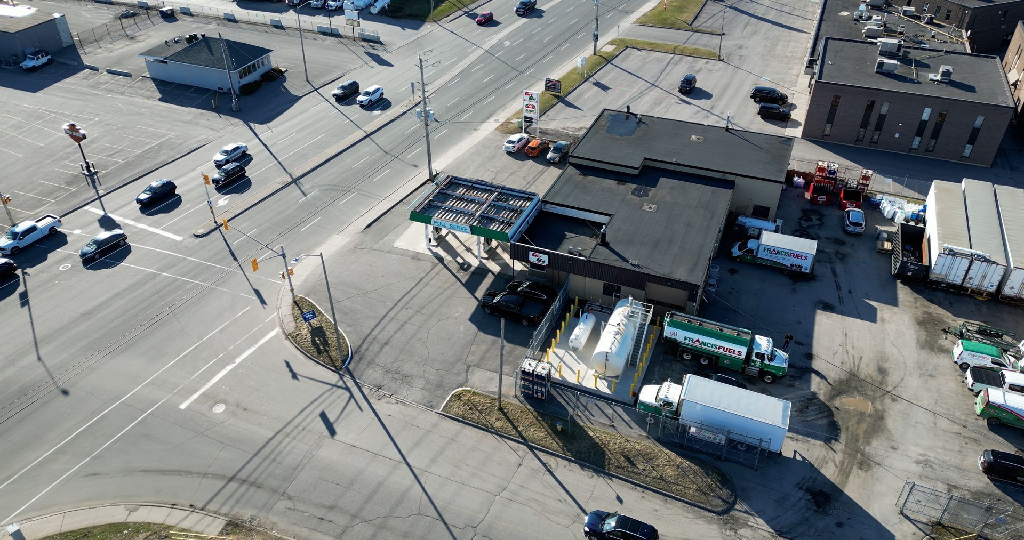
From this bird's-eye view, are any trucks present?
Yes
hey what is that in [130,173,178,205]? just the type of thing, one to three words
car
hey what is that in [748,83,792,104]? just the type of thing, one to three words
car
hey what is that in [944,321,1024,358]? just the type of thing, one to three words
trailer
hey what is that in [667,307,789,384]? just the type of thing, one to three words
truck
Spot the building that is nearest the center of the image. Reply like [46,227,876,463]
[509,107,795,325]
